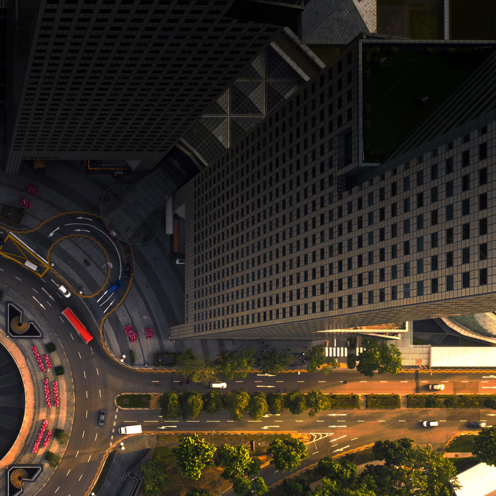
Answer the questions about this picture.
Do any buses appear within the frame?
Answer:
Yes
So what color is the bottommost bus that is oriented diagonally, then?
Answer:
red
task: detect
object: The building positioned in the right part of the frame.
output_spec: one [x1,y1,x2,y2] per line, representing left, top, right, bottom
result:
[170,14,496,341]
